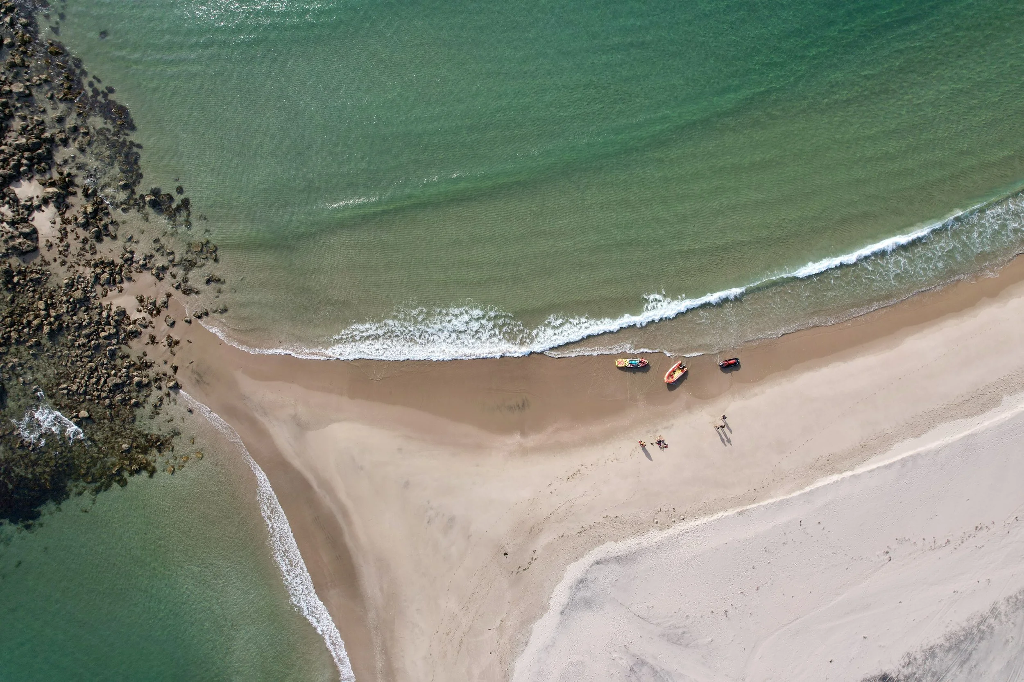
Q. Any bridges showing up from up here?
No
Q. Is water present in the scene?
Yes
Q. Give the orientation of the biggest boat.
on a diagonal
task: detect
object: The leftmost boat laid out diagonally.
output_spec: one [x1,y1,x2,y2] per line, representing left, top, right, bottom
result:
[666,359,690,381]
